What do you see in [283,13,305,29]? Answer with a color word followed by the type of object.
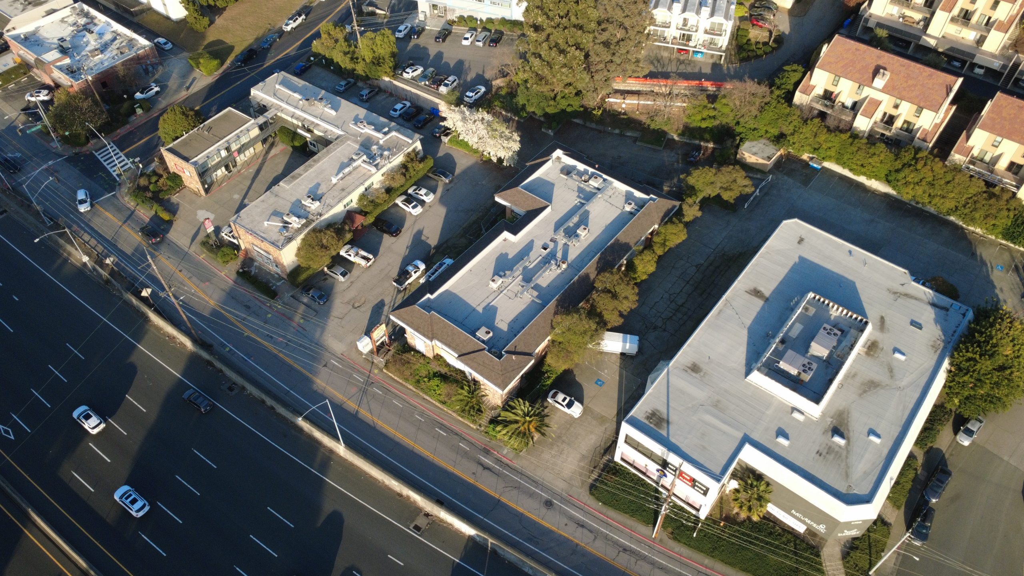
white vehicle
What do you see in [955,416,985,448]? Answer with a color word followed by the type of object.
gray car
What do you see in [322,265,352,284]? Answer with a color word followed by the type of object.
gray car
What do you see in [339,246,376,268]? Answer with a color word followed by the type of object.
white truck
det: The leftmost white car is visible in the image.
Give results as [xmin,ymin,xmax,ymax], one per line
[25,86,54,104]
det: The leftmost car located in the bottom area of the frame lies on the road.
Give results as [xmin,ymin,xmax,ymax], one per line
[75,403,104,437]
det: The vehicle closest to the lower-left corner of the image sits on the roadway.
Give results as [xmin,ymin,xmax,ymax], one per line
[117,483,148,521]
